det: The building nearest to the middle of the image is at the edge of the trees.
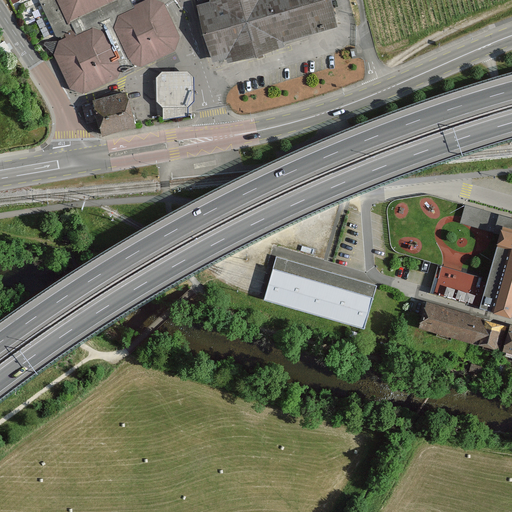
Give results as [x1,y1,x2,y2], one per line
[264,257,376,329]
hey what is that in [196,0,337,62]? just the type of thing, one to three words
building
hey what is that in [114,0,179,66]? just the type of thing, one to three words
house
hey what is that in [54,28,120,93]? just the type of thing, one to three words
house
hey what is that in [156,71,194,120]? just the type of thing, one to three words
building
